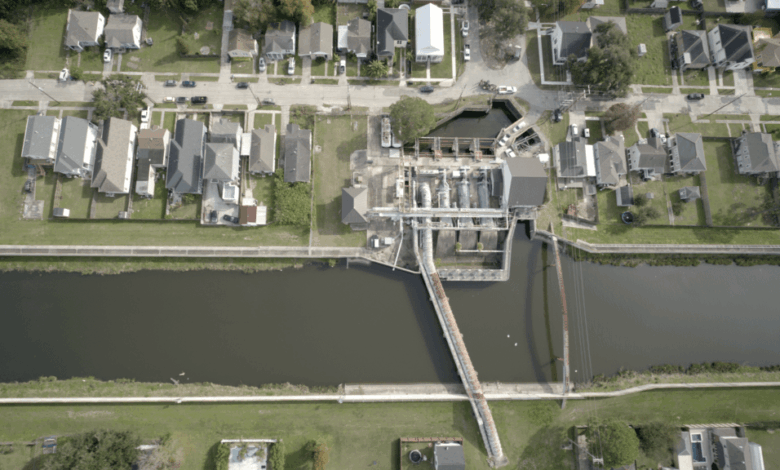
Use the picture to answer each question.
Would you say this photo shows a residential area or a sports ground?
residential area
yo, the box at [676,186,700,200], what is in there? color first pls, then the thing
gray gazebo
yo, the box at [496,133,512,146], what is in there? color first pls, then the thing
white vehicle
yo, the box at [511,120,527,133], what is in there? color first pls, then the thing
white vehicle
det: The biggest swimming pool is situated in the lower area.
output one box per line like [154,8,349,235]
[692,442,708,464]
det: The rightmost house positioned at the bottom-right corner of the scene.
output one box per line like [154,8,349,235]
[715,434,763,470]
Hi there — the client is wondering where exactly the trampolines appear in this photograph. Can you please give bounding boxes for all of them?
[622,211,635,223]
[409,451,422,465]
